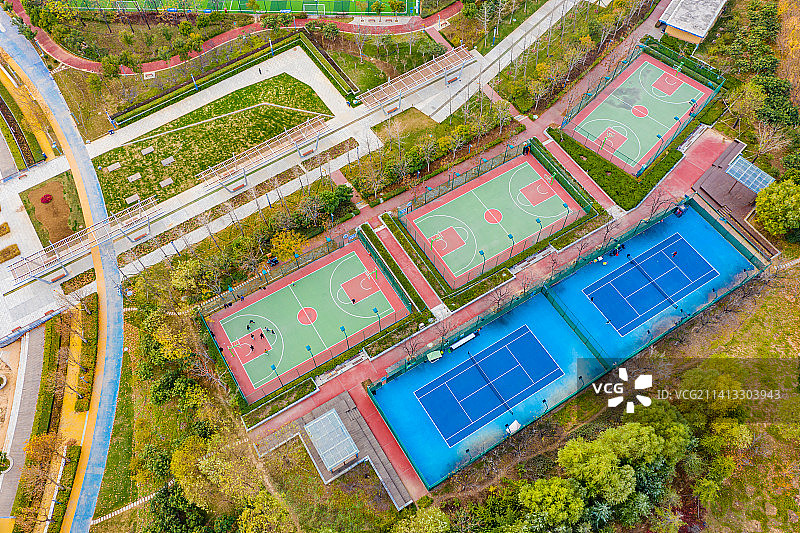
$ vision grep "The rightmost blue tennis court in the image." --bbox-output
[545,205,758,370]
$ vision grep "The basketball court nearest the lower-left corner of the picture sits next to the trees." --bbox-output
[205,240,409,404]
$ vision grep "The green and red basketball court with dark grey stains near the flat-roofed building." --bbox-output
[561,52,716,177]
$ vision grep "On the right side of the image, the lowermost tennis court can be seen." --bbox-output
[374,292,607,486]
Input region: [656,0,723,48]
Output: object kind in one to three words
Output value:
building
